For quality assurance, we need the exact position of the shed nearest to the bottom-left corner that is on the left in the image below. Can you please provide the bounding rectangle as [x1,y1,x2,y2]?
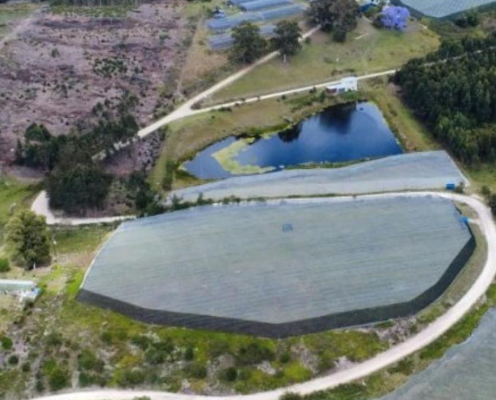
[0,274,40,293]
